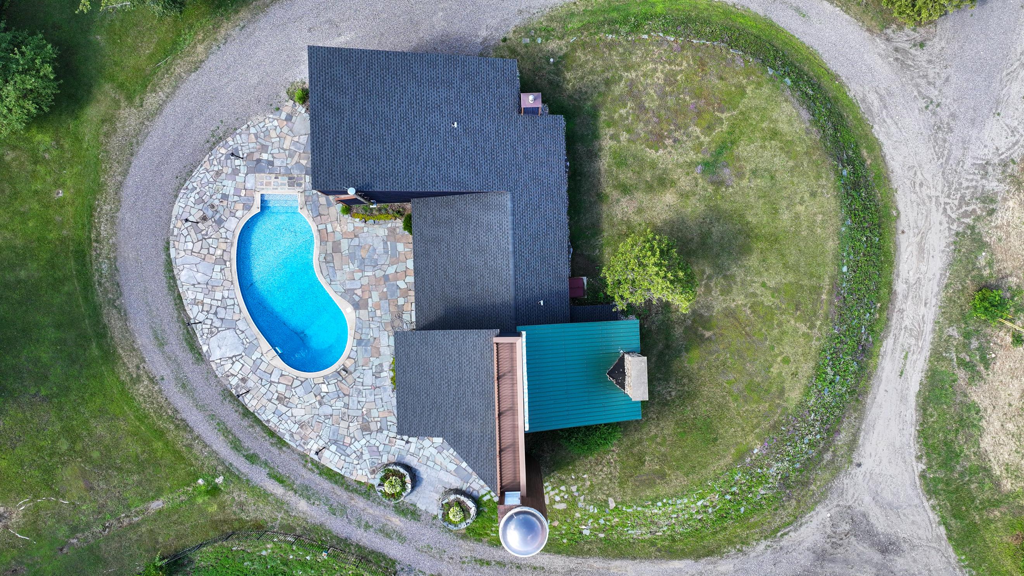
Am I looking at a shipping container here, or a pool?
pool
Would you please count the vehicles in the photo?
zero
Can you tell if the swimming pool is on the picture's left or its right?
left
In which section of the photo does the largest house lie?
center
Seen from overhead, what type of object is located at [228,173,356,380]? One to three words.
swimming pool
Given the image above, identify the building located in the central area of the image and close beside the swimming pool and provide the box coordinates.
[308,46,648,495]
